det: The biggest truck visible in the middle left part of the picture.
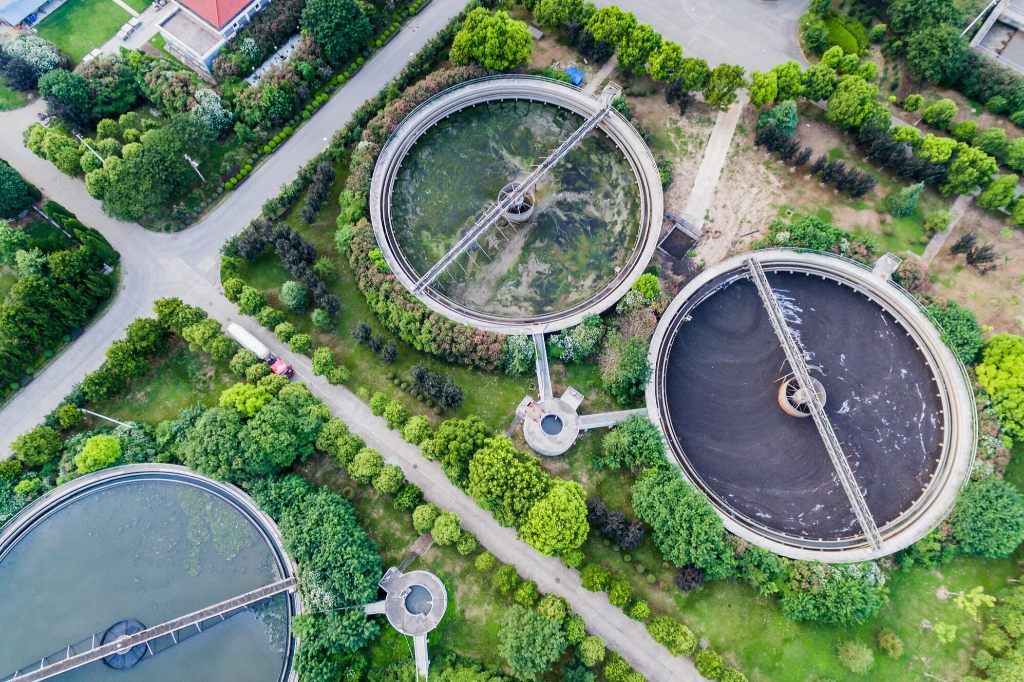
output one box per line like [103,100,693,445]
[224,320,297,381]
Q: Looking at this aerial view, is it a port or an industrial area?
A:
industrial area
